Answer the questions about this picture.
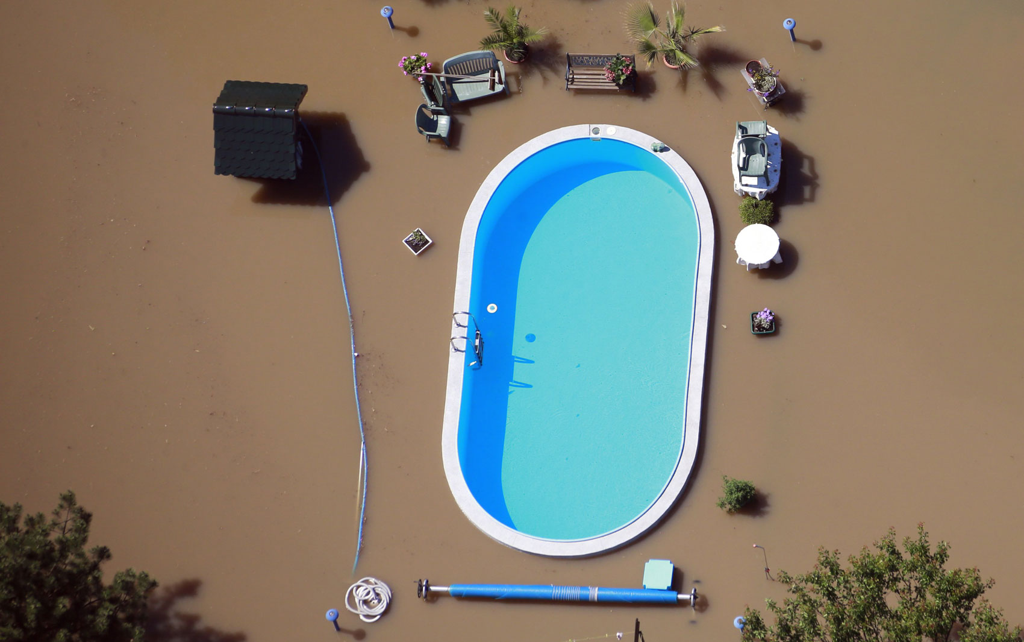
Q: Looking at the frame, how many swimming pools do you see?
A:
1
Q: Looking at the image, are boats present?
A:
No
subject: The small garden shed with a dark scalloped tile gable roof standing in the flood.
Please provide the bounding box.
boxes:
[214,80,312,179]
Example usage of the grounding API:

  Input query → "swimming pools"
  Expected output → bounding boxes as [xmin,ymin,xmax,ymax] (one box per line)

[442,124,714,559]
